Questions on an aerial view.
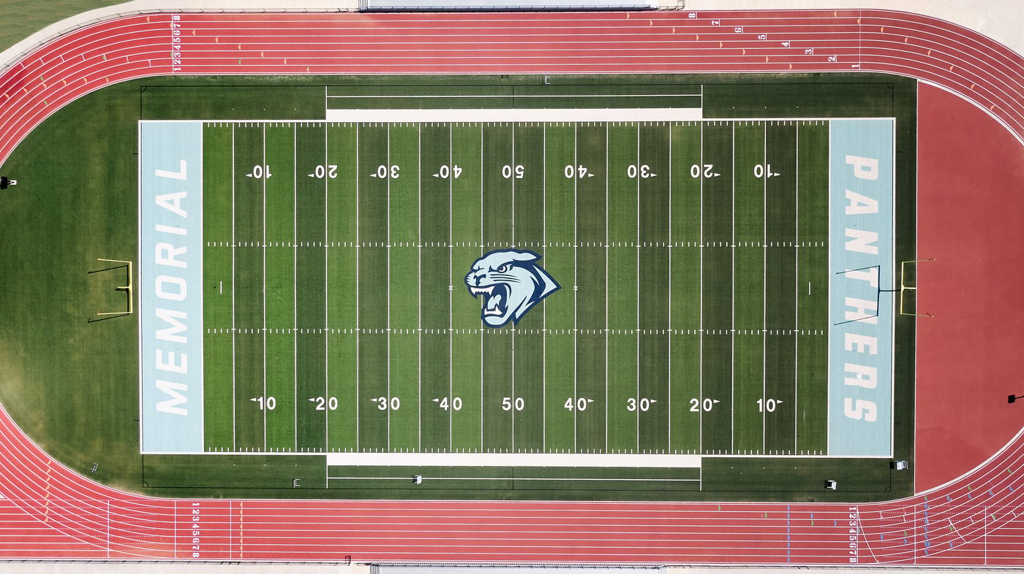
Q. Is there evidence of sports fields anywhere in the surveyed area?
Yes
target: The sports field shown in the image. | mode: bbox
[134,82,900,493]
